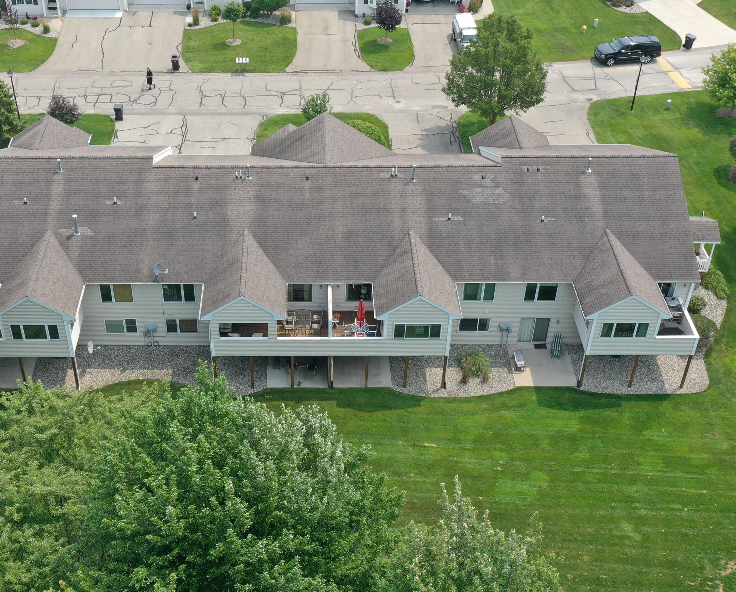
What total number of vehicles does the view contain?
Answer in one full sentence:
My tally gives 2 vehicles in this view.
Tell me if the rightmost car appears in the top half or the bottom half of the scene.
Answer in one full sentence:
Seen from above, the rightmost car lies in the top half of the view.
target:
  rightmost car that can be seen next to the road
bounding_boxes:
[592,25,665,59]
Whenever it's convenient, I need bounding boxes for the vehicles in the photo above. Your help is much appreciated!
[592,25,665,59]
[448,4,484,43]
